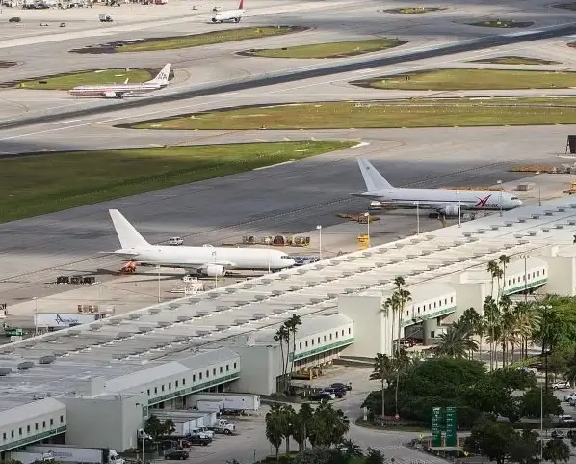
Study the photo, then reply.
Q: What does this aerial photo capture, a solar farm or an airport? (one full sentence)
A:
This image shows an airport.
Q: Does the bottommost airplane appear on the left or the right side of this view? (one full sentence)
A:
The bottommost airplane sits on the left side.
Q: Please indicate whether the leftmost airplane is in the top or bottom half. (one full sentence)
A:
The leftmost airplane sits in the top half of the picture.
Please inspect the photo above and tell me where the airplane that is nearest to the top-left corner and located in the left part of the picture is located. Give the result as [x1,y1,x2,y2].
[71,70,169,100]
